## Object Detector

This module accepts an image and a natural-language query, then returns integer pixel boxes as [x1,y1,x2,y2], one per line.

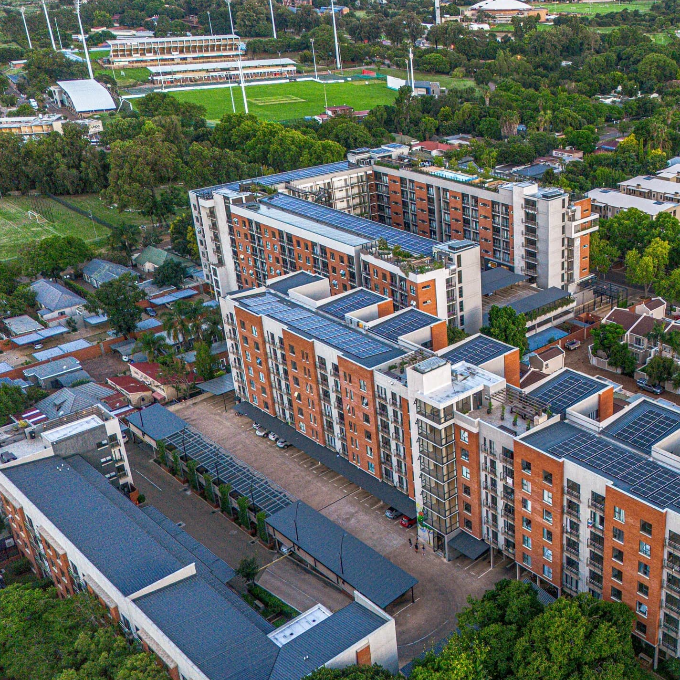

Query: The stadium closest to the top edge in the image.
[459,0,577,31]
